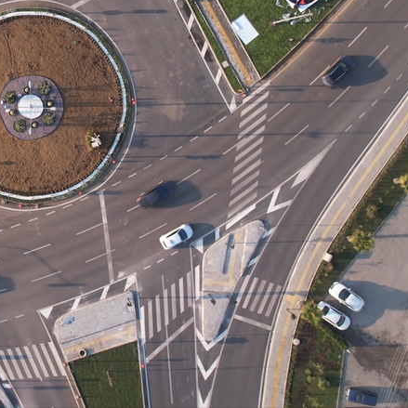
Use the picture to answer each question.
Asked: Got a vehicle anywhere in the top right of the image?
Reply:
Yes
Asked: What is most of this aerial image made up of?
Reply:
paved ground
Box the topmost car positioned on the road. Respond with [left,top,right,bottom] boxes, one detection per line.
[319,54,355,90]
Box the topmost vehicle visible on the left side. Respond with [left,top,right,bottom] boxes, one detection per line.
[137,180,175,211]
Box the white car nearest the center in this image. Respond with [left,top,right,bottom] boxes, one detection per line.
[158,222,195,251]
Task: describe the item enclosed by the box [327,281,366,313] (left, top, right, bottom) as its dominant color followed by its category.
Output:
white car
